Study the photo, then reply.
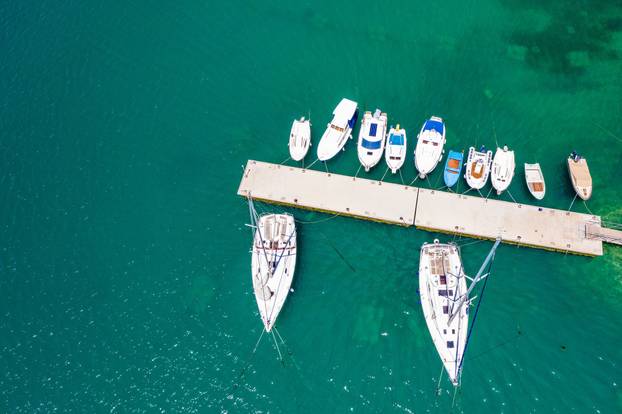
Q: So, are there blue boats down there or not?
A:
Yes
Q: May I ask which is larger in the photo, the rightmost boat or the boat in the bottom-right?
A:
the boat in the bottom-right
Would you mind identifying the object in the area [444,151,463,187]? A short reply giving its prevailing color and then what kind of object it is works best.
blue boat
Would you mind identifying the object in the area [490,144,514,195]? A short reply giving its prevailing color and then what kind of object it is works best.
white boat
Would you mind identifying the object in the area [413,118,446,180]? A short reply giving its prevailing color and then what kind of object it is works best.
white boat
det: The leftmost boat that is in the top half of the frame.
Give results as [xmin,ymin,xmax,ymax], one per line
[287,108,312,163]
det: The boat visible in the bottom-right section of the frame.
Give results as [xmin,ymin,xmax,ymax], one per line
[415,233,502,386]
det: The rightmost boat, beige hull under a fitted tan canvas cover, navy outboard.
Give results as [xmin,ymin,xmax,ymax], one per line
[566,151,592,202]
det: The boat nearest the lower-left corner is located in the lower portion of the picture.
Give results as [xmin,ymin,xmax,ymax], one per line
[247,186,298,333]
